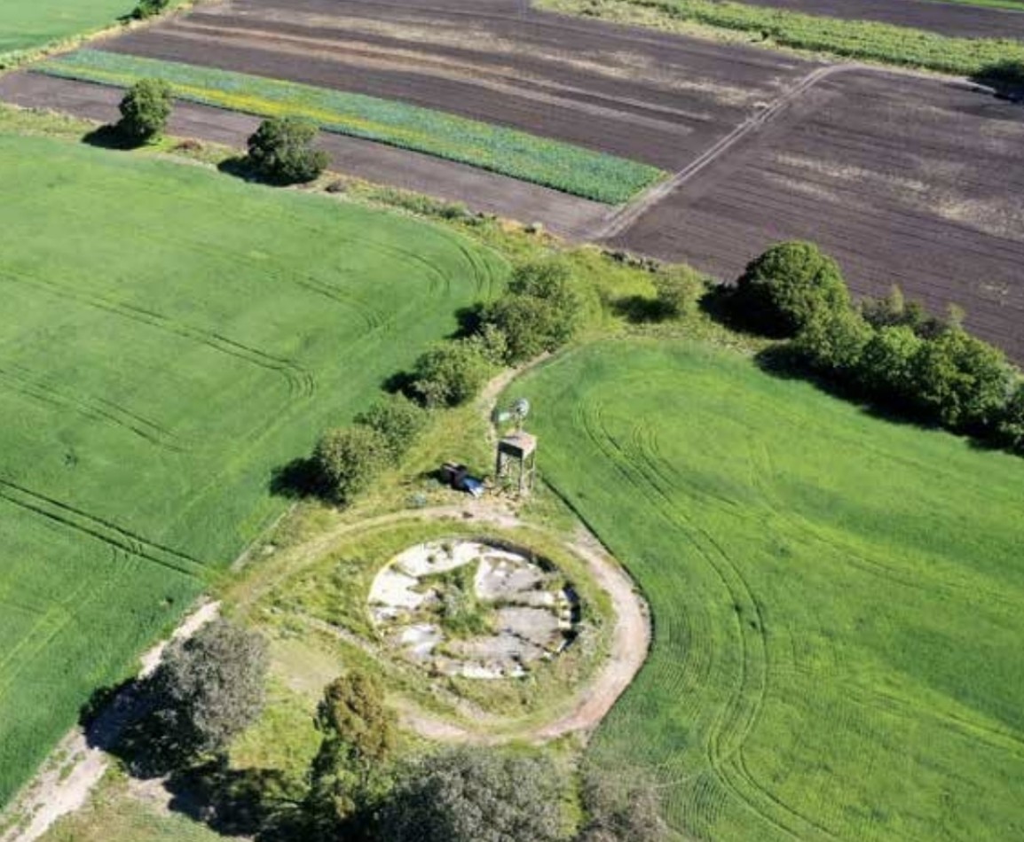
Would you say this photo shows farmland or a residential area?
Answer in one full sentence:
The picture captures farmland.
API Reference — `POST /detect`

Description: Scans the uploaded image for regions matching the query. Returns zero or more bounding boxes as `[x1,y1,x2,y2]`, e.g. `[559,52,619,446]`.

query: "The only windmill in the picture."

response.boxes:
[503,400,531,439]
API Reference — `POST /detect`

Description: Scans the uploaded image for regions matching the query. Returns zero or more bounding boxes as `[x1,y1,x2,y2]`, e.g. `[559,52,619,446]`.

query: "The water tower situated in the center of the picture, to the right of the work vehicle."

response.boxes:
[496,428,537,495]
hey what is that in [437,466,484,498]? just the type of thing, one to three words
work vehicle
